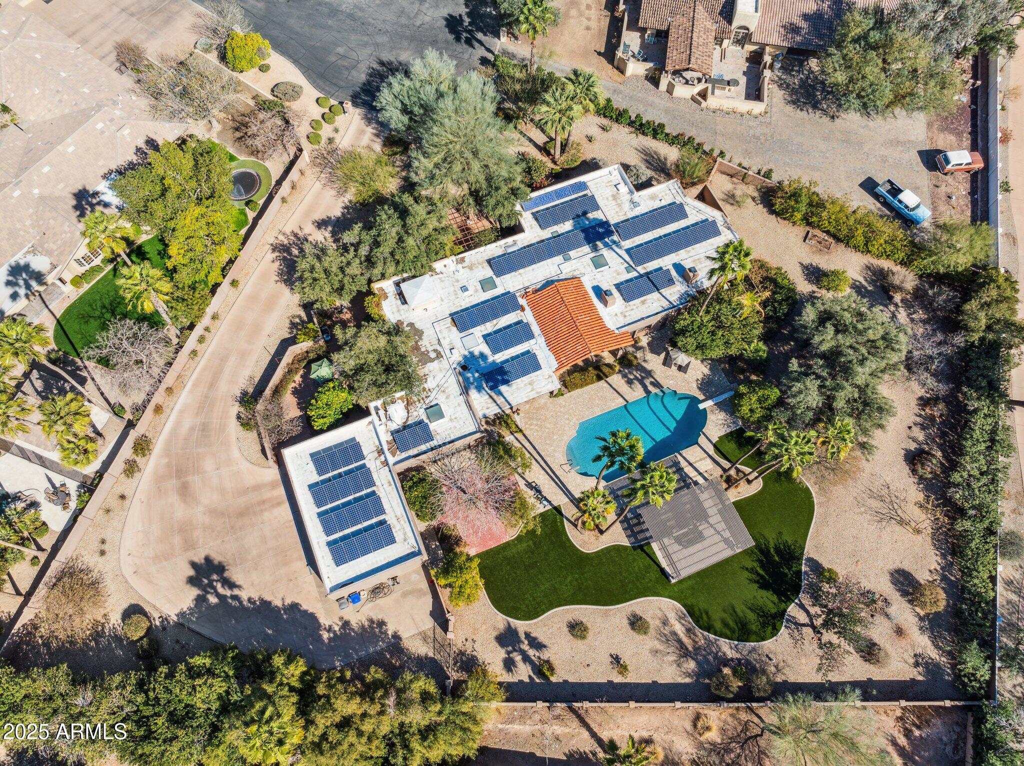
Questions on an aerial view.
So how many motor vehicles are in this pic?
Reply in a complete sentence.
The photo contains 2 motor vehicles.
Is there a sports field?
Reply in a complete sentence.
No, there's no sports field here.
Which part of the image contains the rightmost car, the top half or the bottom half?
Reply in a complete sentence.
The top half of the photo is where the rightmost car is.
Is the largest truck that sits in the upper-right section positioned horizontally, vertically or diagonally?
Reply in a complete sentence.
In this picture, the largest truck that sits in the upper-right section is oriented diagonally.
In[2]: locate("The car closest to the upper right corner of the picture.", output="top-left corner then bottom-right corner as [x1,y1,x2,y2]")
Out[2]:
[939,152,983,177]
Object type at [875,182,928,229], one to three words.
truck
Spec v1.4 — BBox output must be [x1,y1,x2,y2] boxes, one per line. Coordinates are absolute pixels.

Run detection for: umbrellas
[666,346,690,368]
[309,360,335,380]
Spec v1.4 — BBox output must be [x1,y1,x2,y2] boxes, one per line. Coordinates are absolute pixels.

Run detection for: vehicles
[939,152,983,177]
[875,182,928,229]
